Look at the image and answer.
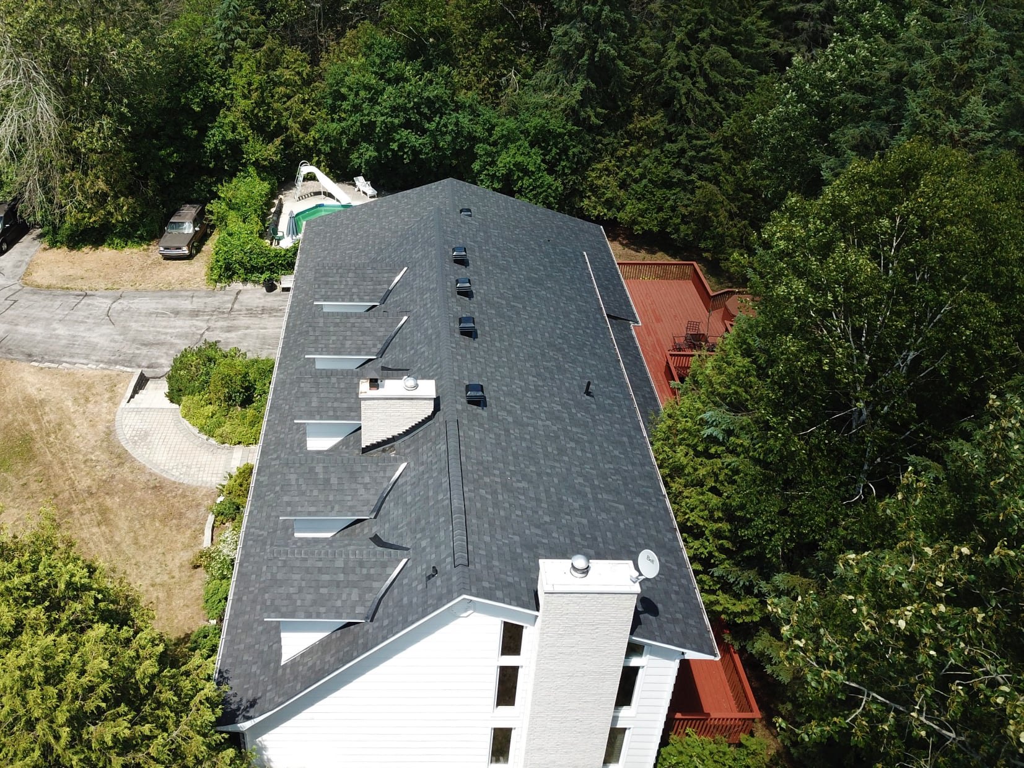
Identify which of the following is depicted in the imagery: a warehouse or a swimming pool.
swimming pool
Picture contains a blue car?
No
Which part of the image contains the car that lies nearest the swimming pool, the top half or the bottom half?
top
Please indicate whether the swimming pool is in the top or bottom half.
top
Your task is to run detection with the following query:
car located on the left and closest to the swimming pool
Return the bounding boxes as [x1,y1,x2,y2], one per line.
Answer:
[157,193,213,253]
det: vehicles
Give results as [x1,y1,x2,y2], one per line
[157,193,213,253]
[0,189,53,256]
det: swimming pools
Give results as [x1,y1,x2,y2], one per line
[287,204,368,253]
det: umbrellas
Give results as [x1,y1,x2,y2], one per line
[285,207,297,234]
